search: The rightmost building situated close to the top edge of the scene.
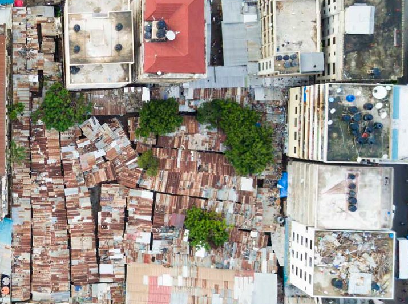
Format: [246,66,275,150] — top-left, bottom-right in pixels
[318,0,404,85]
